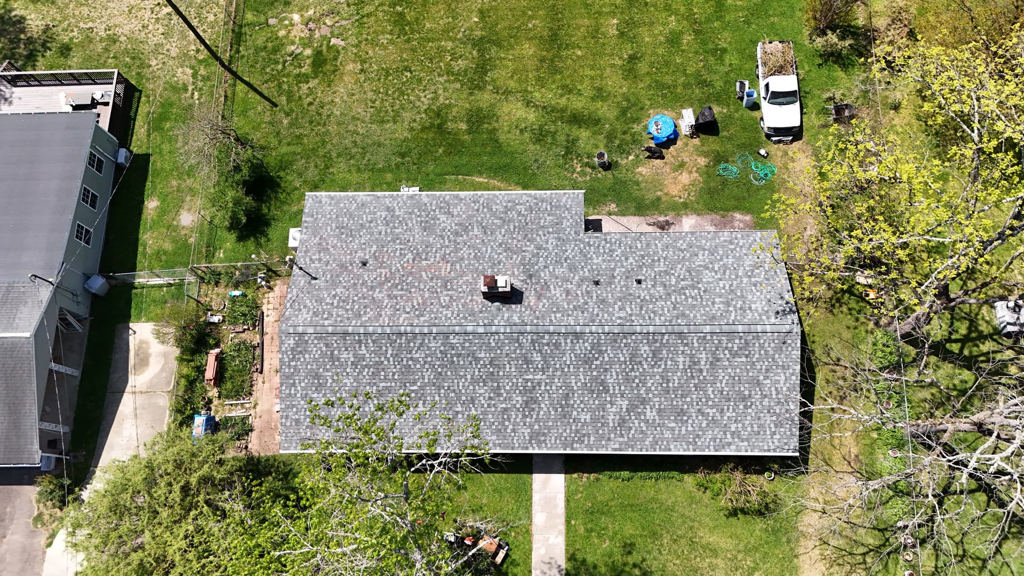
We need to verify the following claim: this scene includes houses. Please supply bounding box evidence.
[0,111,117,466]
[277,192,802,456]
